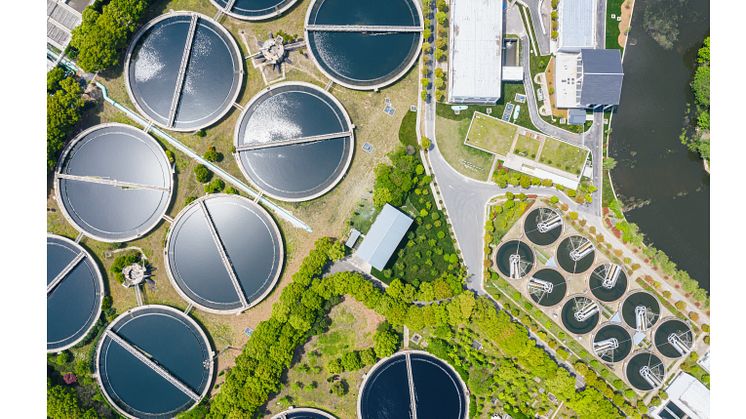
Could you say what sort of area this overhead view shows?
industrial area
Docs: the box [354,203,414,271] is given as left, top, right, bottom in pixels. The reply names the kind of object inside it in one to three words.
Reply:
shed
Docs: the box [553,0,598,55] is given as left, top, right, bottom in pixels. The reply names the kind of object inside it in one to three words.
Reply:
building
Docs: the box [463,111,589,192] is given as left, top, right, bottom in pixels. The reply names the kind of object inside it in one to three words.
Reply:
building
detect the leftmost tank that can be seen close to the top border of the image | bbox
[124,11,245,132]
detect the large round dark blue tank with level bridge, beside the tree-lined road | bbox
[303,0,425,91]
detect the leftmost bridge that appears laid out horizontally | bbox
[52,173,175,192]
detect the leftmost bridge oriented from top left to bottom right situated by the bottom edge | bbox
[105,325,205,404]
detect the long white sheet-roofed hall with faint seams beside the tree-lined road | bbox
[449,0,501,101]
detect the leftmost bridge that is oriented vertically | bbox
[166,11,200,130]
